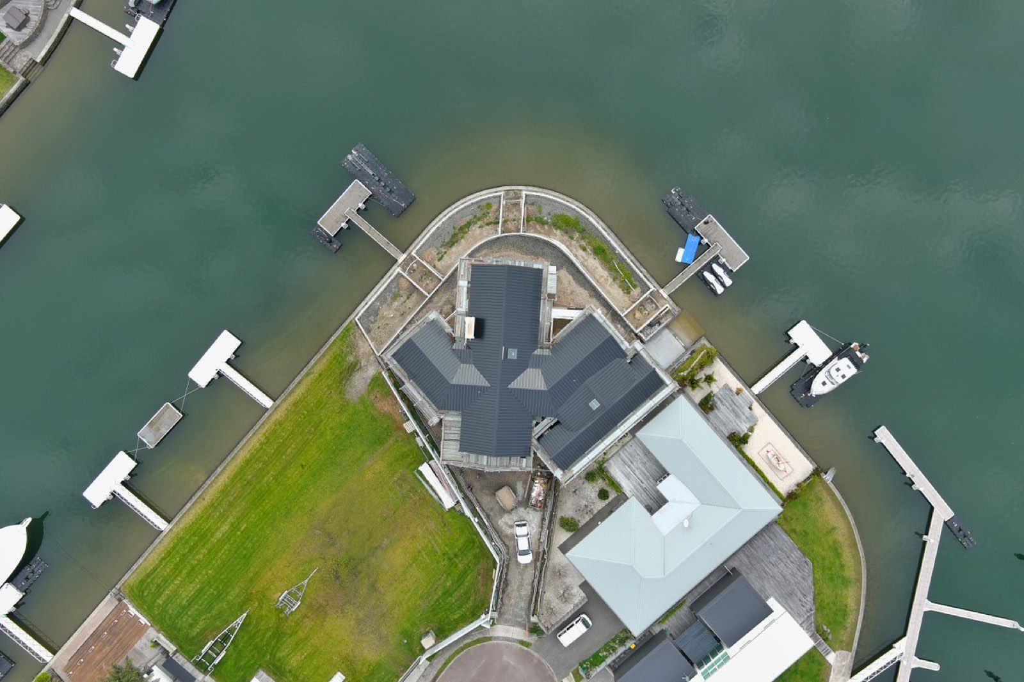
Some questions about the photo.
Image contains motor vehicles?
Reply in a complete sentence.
Yes, a motor vehicle appears in the view.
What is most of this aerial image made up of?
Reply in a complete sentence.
The largest share of the image is taken up by water.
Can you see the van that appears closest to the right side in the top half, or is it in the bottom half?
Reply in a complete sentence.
It is in the bottom half that the van that appears closest to the right side appears.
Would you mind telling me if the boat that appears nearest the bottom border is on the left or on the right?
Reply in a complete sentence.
It is on the left.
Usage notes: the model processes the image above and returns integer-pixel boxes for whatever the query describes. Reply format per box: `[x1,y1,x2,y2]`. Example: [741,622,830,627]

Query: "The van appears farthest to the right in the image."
[557,610,592,646]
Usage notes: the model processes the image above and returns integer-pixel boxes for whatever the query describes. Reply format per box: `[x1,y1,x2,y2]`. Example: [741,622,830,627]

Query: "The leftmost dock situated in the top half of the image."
[0,204,23,245]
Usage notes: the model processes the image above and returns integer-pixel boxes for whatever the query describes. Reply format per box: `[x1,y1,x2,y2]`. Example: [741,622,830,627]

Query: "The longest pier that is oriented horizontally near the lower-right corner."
[923,599,1017,629]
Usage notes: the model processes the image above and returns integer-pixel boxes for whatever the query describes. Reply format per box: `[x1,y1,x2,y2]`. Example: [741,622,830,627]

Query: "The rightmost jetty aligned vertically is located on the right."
[892,507,945,682]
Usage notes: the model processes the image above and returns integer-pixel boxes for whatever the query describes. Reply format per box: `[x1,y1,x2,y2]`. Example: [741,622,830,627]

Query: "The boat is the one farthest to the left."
[0,520,40,587]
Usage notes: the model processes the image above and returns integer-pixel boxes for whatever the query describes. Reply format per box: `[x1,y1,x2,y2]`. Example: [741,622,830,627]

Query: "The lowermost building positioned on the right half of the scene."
[599,567,814,682]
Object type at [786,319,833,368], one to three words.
pier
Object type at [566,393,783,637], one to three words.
house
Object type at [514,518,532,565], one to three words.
vehicle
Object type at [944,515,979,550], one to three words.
pier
